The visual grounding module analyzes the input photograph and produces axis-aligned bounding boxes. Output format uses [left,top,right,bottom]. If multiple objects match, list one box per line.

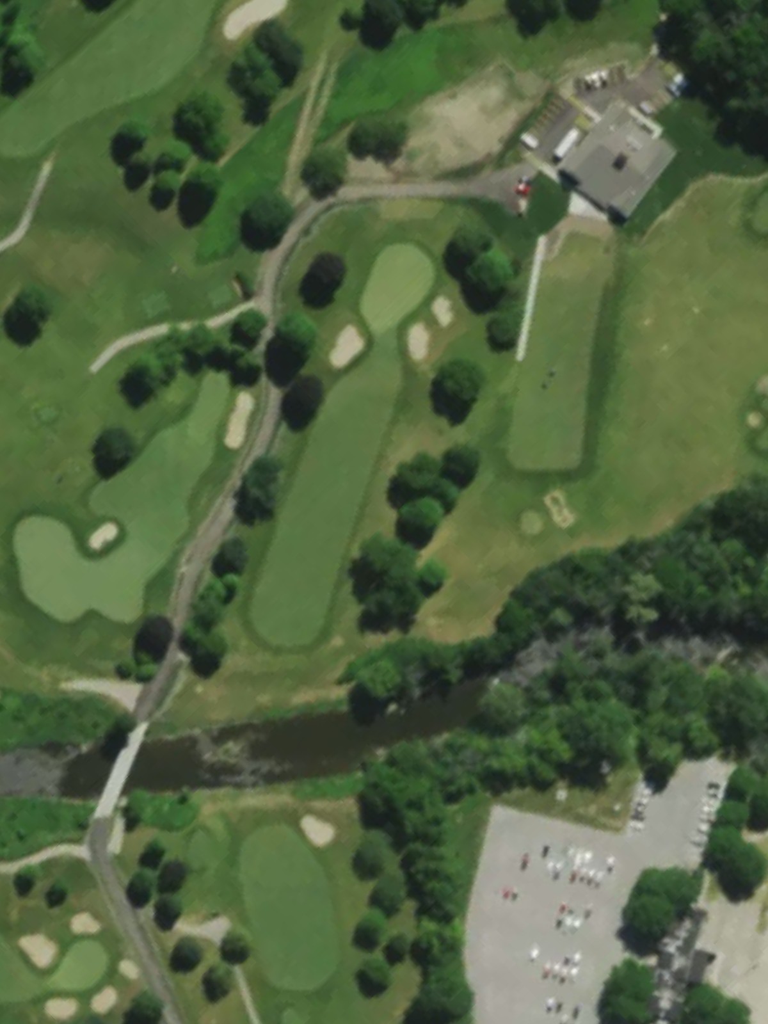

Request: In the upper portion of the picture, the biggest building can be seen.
[558,95,677,217]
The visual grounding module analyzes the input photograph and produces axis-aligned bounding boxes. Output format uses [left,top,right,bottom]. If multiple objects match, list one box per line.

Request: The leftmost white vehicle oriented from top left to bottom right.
[522,133,537,147]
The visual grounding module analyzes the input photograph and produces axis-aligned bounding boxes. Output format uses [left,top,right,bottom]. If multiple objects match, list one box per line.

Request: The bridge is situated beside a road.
[95,726,147,819]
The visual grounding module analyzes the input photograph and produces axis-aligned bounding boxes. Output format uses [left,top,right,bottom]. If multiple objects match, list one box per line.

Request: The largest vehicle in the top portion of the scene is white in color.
[554,129,578,159]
